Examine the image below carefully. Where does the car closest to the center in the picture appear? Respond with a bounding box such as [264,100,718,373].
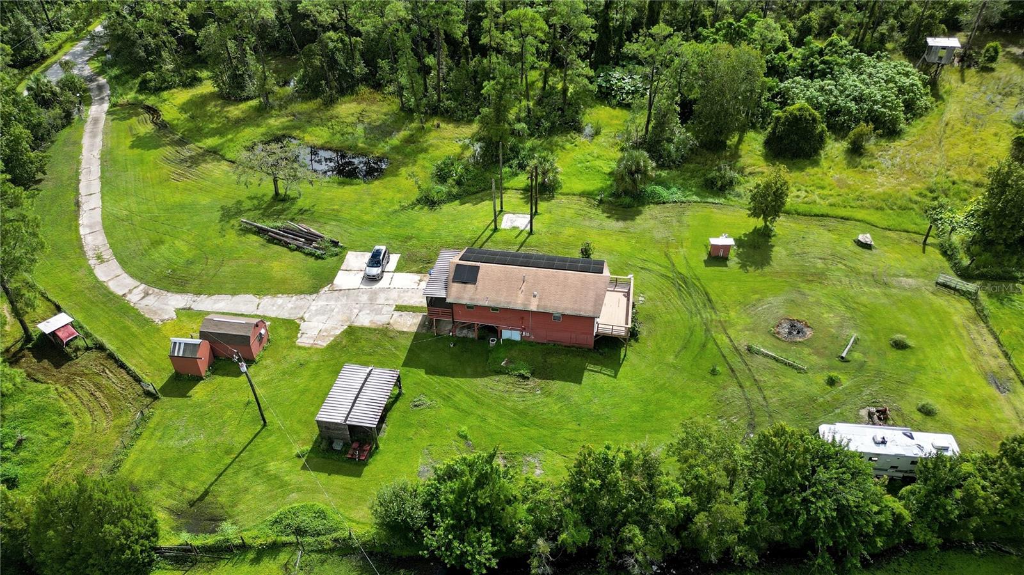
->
[364,247,388,278]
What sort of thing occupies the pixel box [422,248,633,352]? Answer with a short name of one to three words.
house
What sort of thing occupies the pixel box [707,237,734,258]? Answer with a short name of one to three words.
shed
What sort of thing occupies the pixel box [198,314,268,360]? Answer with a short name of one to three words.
shed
